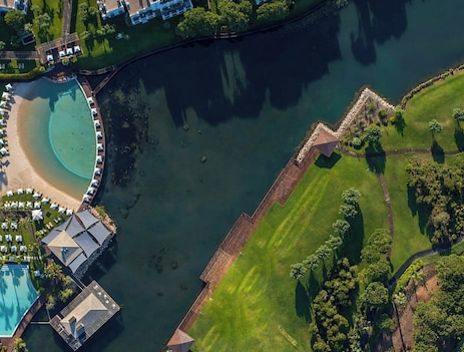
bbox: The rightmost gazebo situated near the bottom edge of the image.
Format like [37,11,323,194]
[168,330,194,352]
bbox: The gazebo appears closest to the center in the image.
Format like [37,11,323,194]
[313,131,338,156]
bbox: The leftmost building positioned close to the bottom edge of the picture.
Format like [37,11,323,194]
[51,281,120,350]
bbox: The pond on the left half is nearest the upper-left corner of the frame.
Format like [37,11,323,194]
[0,77,98,212]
